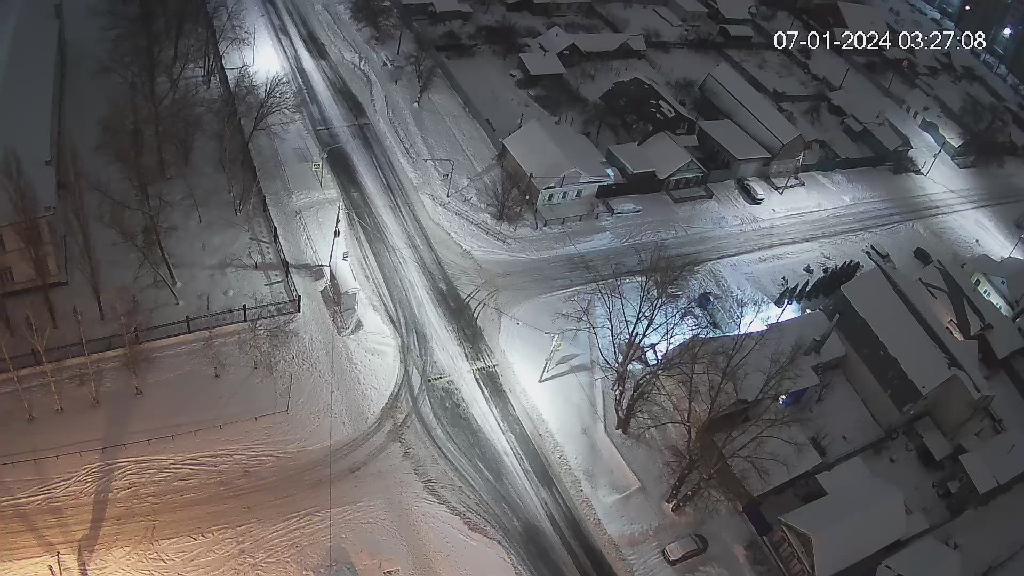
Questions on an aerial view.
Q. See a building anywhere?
Yes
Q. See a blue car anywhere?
No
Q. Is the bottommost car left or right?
right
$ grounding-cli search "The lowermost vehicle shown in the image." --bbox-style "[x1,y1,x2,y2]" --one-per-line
[662,535,712,568]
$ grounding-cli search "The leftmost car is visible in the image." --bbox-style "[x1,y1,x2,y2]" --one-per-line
[610,198,644,216]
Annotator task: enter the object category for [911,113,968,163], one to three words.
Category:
house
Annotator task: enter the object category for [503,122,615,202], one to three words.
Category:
house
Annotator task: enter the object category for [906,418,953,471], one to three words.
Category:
shed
